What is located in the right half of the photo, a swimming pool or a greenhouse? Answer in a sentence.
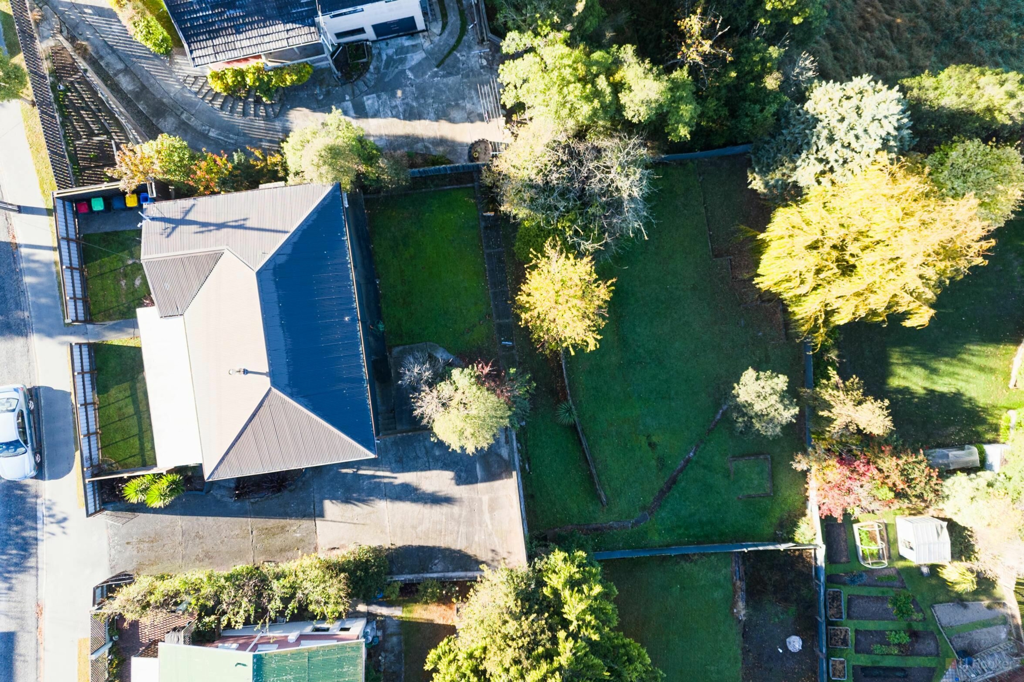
Looking in the right half of the photo, you will find a greenhouse.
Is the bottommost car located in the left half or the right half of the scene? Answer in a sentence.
You can find the bottommost car on the left side of the picture.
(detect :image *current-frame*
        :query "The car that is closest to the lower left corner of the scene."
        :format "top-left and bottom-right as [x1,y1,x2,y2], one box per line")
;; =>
[0,386,39,481]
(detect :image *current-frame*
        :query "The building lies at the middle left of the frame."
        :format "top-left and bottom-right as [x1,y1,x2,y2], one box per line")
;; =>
[129,180,382,484]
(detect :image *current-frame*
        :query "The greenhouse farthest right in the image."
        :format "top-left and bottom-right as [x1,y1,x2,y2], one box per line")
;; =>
[889,520,951,571]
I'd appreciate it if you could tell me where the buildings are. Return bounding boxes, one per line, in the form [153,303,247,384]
[129,180,382,484]
[889,520,951,571]
[131,616,370,682]
[164,0,428,84]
